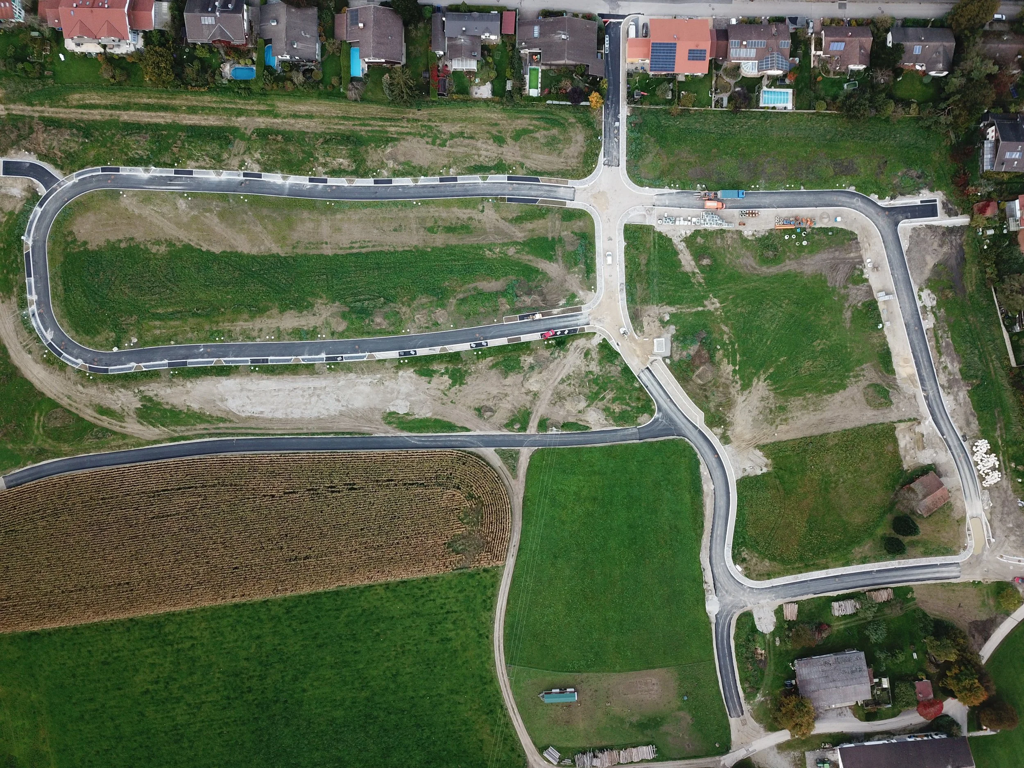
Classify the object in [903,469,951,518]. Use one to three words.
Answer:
barn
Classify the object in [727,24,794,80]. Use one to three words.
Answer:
house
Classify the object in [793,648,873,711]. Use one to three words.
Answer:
house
